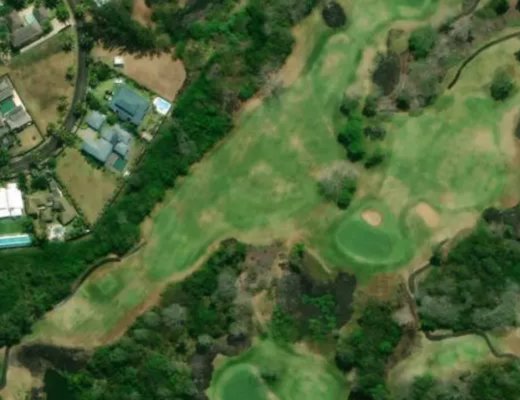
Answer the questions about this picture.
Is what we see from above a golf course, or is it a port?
golf course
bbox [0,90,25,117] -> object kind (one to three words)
swimming pool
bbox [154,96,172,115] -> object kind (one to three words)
swimming pool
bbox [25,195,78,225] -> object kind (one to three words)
house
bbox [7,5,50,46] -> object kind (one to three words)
house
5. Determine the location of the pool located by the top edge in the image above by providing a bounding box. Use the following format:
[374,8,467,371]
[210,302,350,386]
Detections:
[19,7,38,25]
